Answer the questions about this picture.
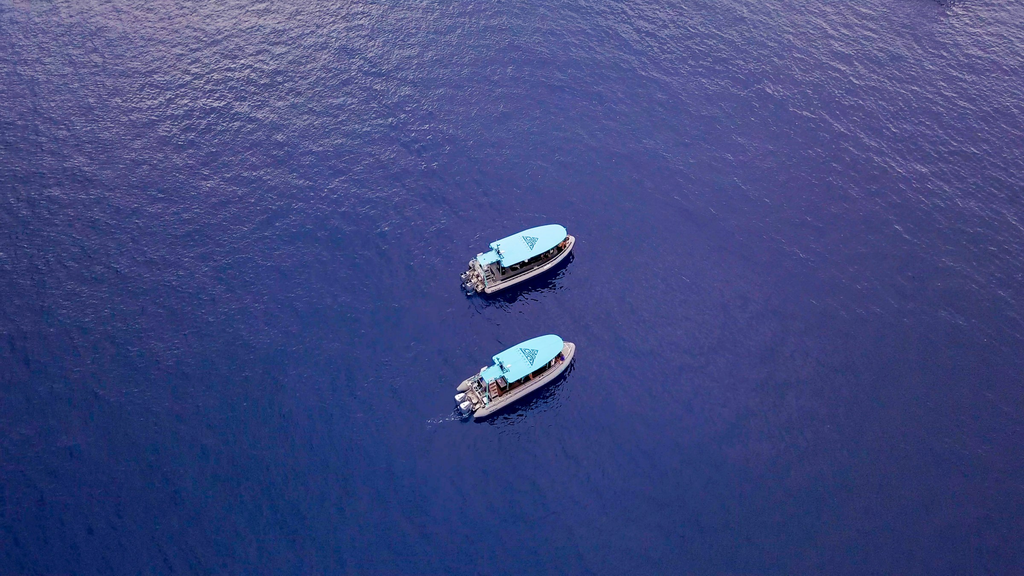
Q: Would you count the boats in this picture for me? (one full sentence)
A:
Altogether the scene contains 2 boats.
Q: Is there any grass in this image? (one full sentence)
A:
No, the scene doesn't show any grass.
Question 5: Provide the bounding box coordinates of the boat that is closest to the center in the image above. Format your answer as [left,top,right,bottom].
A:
[460,225,575,295]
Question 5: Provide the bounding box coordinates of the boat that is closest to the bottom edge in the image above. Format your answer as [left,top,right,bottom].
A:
[454,336,576,418]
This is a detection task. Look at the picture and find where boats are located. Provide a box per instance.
[454,336,576,418]
[460,225,575,295]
